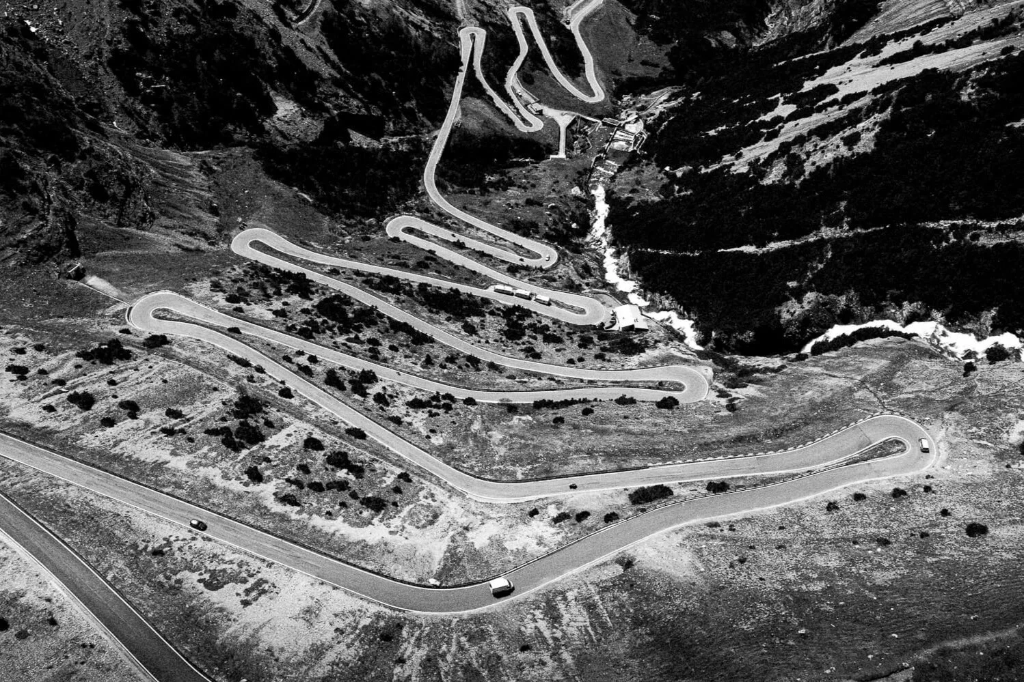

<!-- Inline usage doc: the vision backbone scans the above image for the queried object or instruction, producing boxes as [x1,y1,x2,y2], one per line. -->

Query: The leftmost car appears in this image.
[188,518,208,531]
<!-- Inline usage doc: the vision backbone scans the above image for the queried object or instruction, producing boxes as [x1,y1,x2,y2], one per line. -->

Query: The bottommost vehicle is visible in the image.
[489,580,514,594]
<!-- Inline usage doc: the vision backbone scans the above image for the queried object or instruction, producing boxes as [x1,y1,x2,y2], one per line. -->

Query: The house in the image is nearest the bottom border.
[612,302,650,333]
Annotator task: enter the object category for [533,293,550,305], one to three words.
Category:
vehicle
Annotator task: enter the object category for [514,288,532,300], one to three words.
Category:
vehicle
